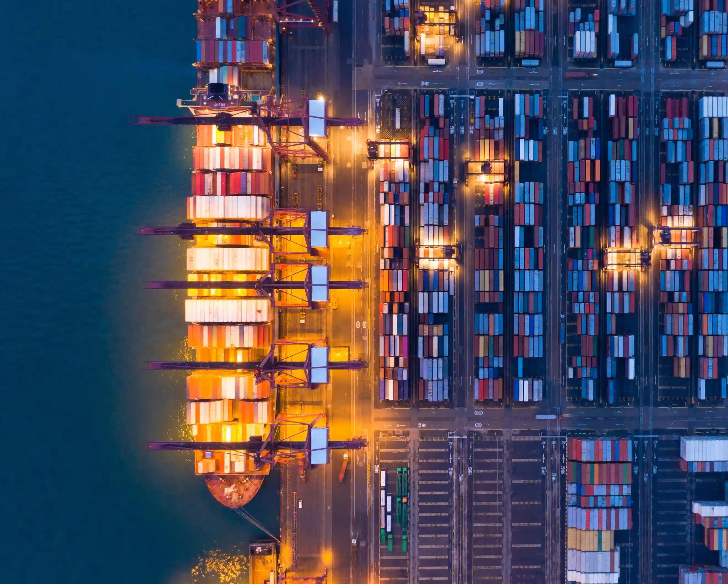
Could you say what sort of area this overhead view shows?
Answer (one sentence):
What you see here is a port.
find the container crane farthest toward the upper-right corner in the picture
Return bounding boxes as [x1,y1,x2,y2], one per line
[644,226,700,248]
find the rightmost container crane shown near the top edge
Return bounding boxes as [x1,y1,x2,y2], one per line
[412,10,460,41]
